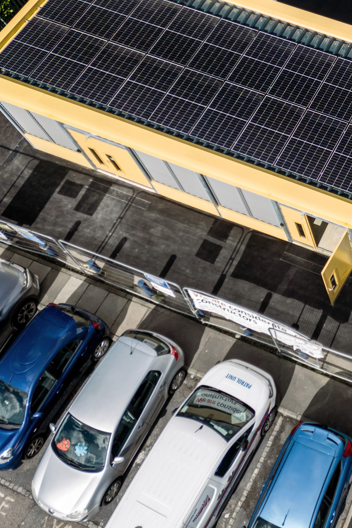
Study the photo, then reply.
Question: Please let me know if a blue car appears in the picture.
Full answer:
Yes, a blue car is visible in the scene.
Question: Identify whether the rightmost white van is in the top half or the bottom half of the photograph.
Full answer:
It is in the bottom half that the rightmost white van appears.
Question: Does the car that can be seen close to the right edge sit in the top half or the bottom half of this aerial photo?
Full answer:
You can find the car that can be seen close to the right edge in the bottom half.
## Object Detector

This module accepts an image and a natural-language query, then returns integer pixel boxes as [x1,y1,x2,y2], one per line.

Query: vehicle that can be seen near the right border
[242,418,352,528]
